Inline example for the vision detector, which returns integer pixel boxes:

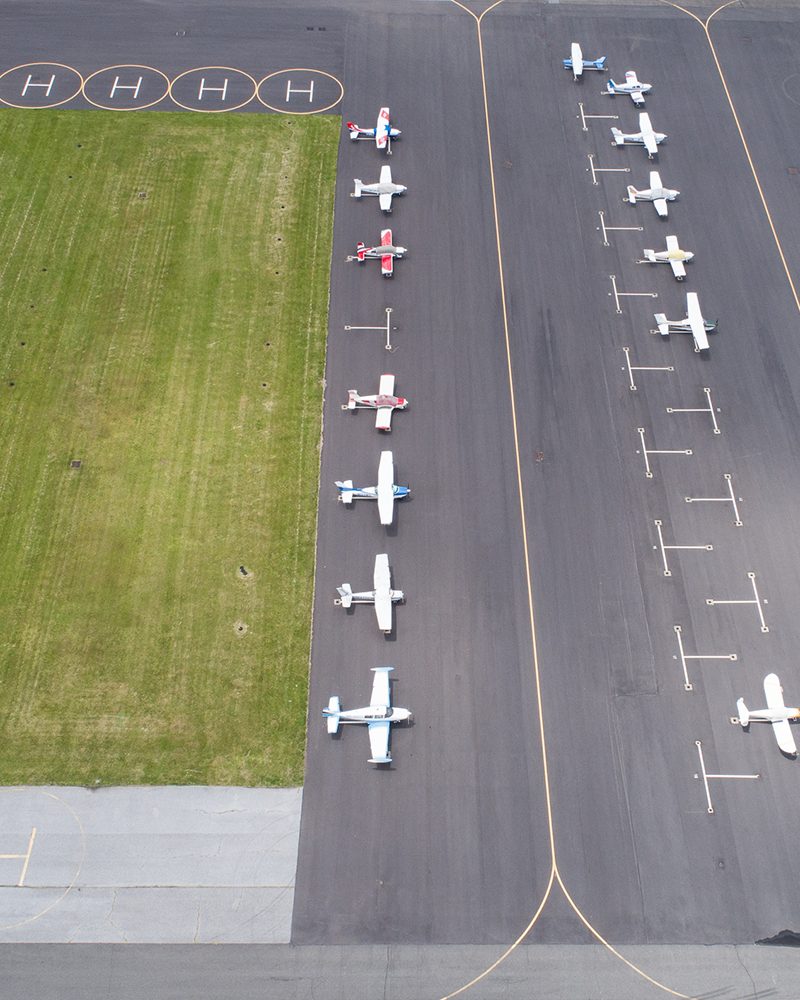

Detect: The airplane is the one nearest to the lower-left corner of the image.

[322,668,410,763]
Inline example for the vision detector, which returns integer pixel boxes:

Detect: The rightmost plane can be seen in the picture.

[734,673,800,753]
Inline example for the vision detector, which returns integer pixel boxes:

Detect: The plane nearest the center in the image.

[337,451,410,523]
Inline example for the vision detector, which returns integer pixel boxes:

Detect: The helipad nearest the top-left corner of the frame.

[0,63,84,108]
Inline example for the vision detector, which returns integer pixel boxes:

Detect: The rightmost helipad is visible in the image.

[257,68,344,113]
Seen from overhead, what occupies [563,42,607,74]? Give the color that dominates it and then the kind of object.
white airplane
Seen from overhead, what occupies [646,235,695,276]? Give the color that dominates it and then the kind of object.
white airplane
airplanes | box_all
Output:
[355,166,406,211]
[337,451,410,523]
[613,111,665,151]
[656,292,718,349]
[322,668,410,763]
[335,554,405,630]
[563,42,607,74]
[348,375,407,430]
[626,171,679,216]
[734,673,800,753]
[608,71,653,103]
[646,235,695,276]
[347,107,401,147]
[356,229,408,273]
